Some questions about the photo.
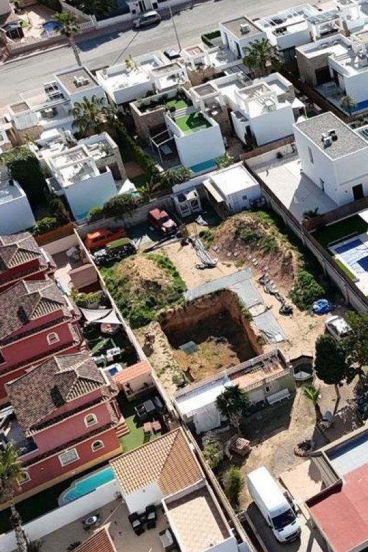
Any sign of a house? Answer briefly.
Yes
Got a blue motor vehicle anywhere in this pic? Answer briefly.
No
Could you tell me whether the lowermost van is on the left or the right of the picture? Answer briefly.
right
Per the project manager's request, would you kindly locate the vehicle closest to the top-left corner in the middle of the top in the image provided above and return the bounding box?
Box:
[129,7,165,29]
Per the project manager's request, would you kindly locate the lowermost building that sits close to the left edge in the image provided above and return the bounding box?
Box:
[0,367,99,511]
